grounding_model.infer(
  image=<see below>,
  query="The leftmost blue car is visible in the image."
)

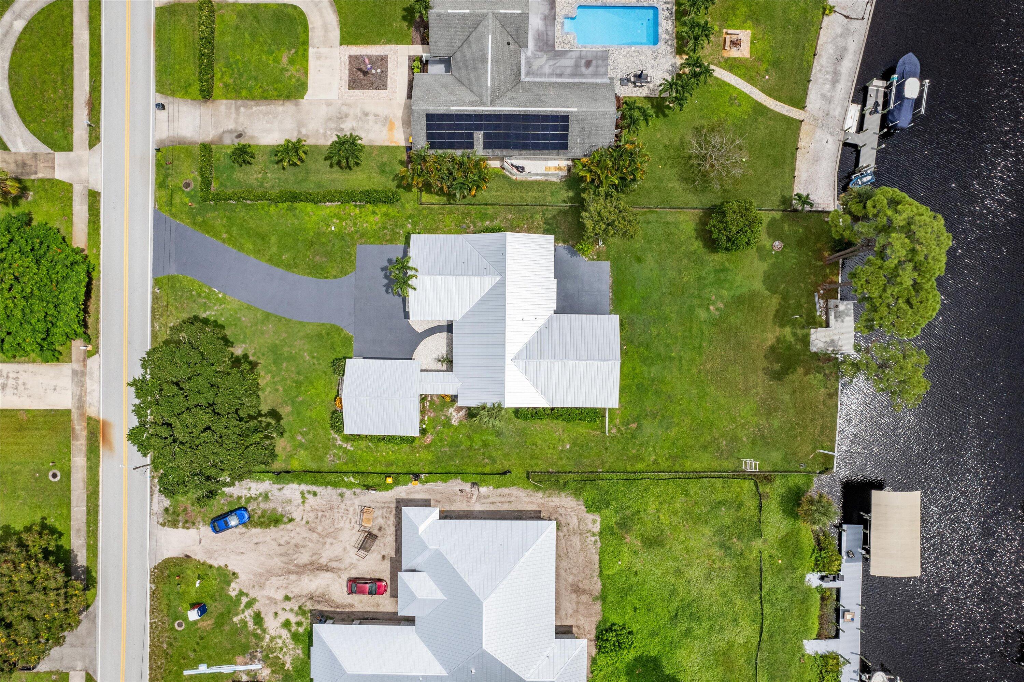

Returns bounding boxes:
[209,507,250,535]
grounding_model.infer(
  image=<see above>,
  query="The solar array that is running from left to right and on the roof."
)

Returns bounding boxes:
[426,113,569,149]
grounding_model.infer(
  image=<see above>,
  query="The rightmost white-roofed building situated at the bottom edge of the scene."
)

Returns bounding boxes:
[313,506,588,682]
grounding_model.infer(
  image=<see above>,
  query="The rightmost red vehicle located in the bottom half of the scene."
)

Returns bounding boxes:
[347,576,388,597]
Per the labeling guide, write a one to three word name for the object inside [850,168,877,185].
boat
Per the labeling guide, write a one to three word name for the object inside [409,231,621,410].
house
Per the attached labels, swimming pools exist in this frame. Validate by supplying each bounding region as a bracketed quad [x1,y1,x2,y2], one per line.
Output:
[565,6,658,45]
